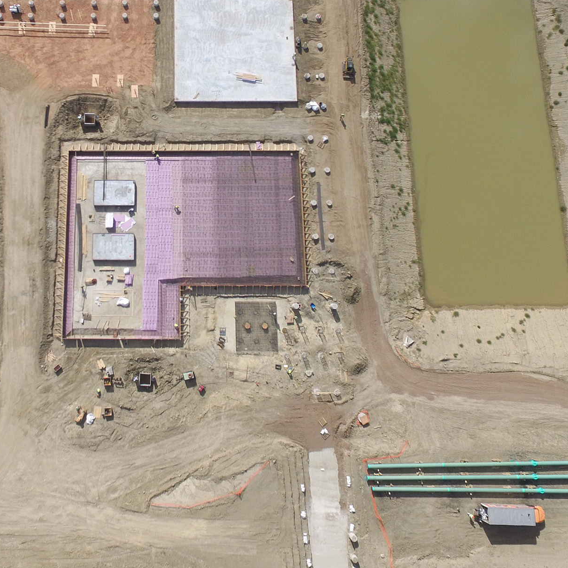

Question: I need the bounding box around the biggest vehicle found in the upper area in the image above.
[341,57,355,80]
